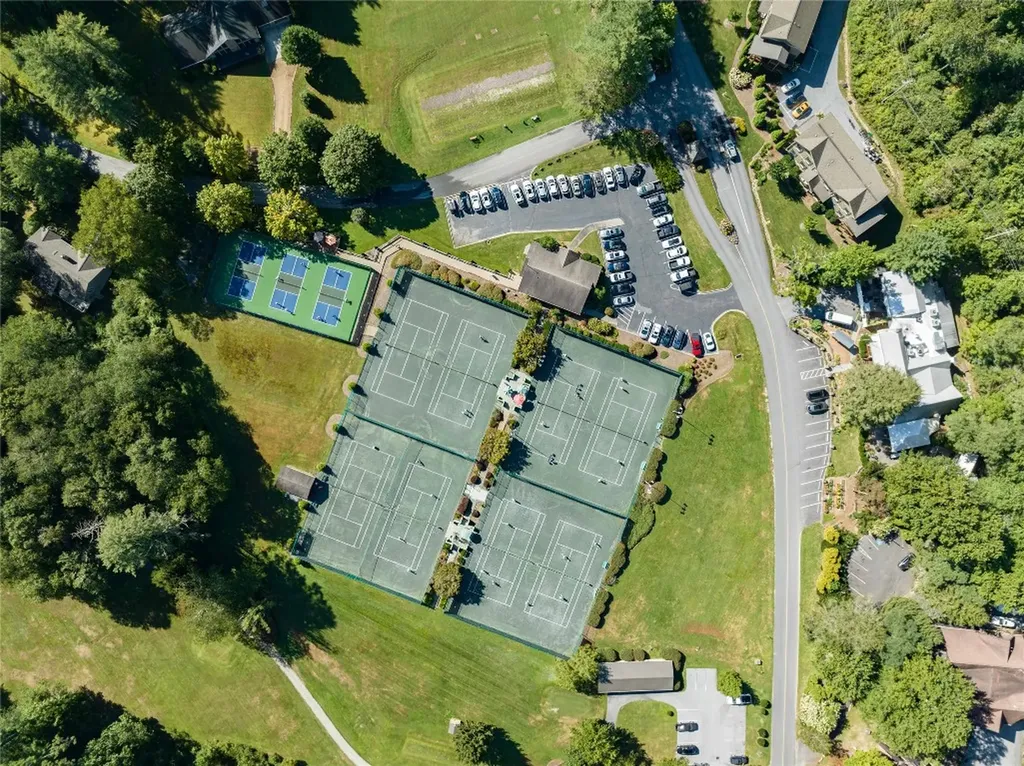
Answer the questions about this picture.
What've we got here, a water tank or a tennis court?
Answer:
tennis court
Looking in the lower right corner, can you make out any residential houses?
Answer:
Yes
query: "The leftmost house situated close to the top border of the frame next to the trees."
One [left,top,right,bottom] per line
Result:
[158,0,307,78]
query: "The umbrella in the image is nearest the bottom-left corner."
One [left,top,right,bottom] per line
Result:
[459,527,473,540]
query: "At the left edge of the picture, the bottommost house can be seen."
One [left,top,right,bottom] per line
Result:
[20,225,113,299]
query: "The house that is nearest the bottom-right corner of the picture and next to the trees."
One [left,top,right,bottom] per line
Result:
[929,626,1024,721]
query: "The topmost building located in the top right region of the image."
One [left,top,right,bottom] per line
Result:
[740,0,825,81]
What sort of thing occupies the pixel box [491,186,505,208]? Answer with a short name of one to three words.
car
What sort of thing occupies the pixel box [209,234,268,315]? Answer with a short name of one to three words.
sports court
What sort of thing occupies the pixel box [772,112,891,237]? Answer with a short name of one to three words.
building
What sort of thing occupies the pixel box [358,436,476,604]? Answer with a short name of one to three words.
tennis court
